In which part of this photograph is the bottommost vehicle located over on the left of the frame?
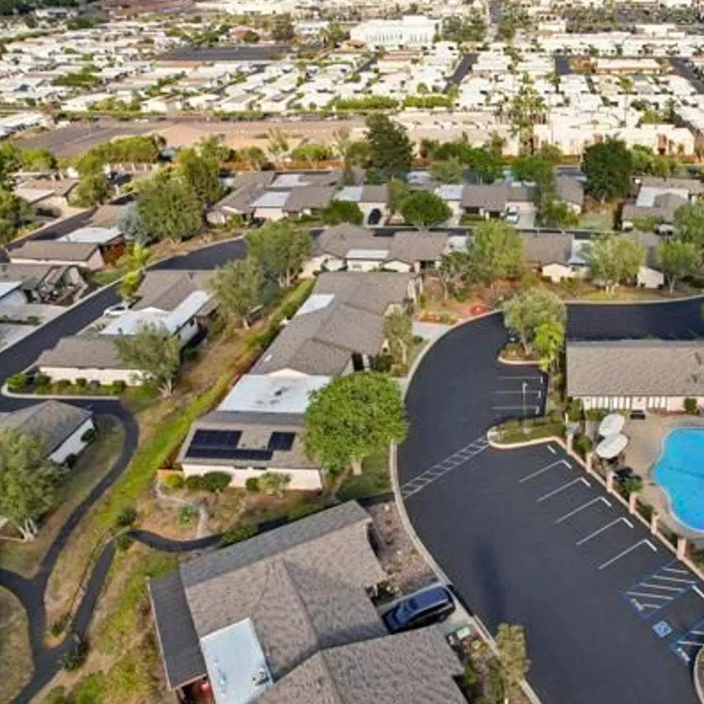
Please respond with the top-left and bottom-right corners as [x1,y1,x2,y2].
[92,300,134,322]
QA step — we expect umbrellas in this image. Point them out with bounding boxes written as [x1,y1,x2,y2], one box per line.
[594,435,631,460]
[596,414,628,438]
